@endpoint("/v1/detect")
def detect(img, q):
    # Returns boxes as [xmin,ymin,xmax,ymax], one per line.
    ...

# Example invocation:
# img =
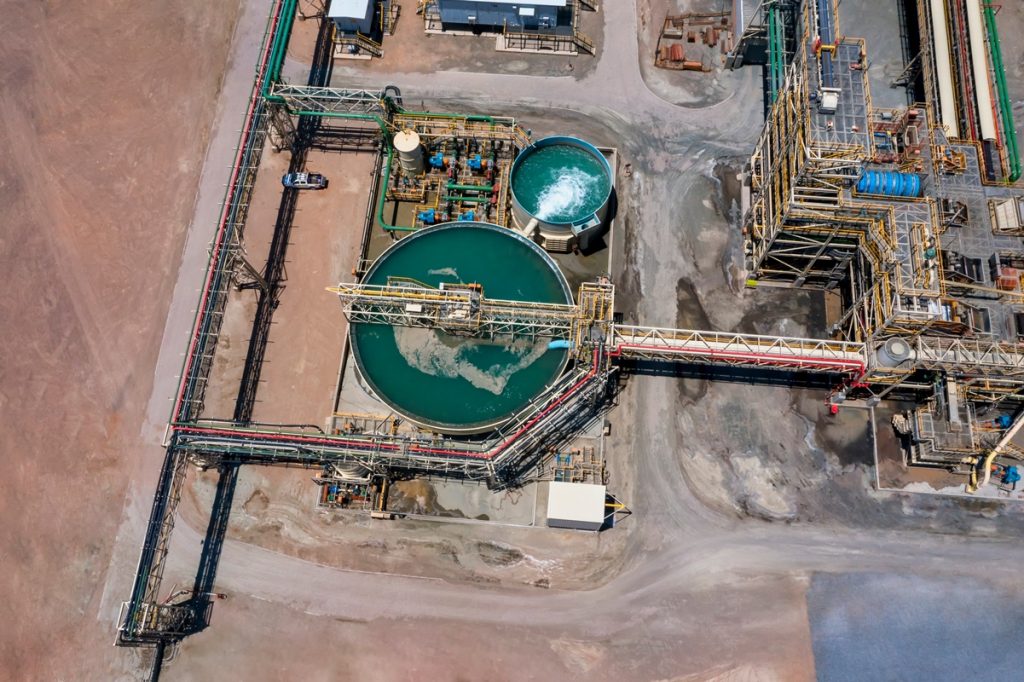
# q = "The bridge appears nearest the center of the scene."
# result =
[324,274,577,341]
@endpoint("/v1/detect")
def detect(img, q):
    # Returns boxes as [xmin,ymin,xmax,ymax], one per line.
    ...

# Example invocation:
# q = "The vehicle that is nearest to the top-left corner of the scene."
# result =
[281,170,326,190]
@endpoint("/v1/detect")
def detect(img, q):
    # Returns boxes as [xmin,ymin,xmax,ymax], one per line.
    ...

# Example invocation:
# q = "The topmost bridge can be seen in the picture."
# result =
[271,85,404,163]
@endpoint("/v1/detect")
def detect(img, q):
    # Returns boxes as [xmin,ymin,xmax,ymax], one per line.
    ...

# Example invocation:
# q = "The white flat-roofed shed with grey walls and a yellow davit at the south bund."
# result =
[542,481,625,536]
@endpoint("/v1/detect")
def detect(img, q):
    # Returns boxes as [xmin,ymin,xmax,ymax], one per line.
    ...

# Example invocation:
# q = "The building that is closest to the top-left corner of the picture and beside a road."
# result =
[326,0,381,60]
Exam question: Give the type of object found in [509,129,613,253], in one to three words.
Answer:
water tank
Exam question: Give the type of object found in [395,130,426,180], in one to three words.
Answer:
storage tank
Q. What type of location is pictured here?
industrial area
